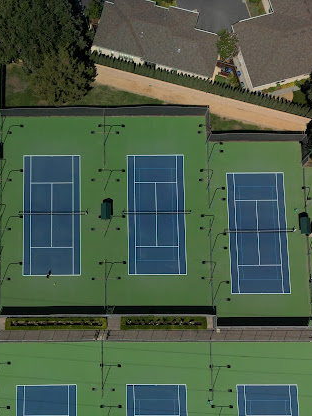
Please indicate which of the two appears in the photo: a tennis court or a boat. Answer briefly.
tennis court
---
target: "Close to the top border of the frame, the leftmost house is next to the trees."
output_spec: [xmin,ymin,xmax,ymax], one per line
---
[92,0,217,84]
